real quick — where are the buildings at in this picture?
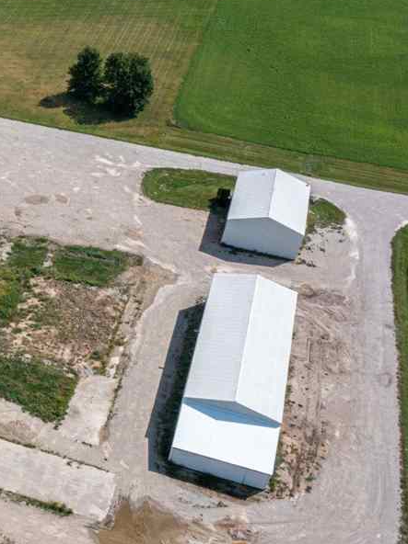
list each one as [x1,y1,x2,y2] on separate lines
[221,168,310,260]
[168,273,298,490]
